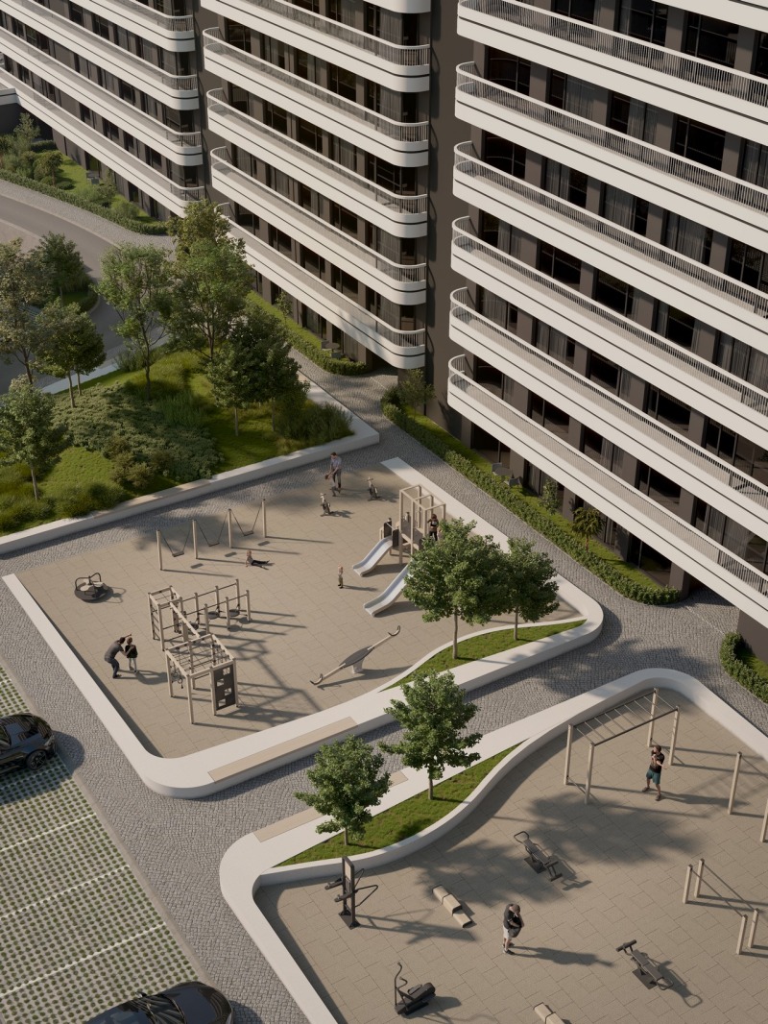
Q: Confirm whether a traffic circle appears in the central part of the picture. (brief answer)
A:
No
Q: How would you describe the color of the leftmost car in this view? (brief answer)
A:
black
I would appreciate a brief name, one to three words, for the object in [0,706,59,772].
car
